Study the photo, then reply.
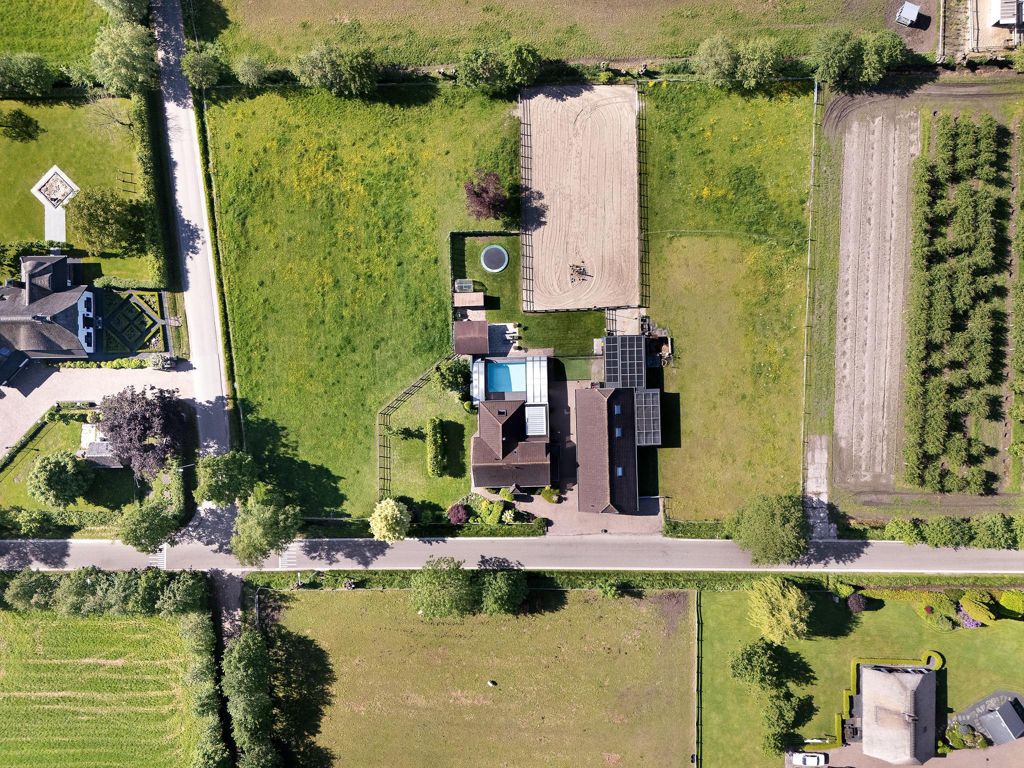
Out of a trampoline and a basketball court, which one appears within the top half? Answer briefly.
trampoline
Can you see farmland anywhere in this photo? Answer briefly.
Yes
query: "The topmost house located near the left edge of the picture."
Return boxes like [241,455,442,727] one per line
[0,253,104,397]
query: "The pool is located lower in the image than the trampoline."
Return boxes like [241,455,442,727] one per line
[484,356,526,401]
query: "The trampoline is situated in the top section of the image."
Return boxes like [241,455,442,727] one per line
[481,245,508,272]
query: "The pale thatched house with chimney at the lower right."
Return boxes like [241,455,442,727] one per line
[855,664,935,764]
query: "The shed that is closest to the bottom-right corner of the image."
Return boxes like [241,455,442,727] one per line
[967,690,1024,746]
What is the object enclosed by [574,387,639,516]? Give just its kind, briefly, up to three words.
barn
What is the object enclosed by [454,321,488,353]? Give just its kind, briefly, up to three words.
shed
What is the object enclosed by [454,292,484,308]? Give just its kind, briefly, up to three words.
shed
